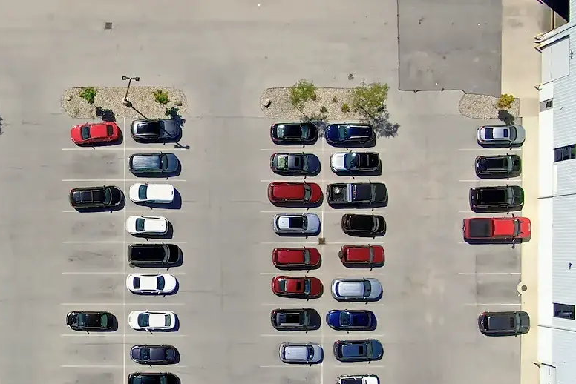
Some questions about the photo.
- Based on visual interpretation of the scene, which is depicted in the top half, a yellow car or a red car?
red car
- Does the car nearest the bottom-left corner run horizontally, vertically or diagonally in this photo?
horizontally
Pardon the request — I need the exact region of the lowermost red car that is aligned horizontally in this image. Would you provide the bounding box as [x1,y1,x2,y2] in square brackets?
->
[270,275,322,298]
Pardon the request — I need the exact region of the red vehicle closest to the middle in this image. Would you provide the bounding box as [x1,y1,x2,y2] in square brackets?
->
[267,179,322,205]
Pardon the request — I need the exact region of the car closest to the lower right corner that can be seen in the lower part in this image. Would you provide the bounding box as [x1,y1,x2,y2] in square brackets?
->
[476,311,530,335]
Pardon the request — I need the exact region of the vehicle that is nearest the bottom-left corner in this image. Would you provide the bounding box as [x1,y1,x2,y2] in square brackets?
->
[66,309,115,333]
